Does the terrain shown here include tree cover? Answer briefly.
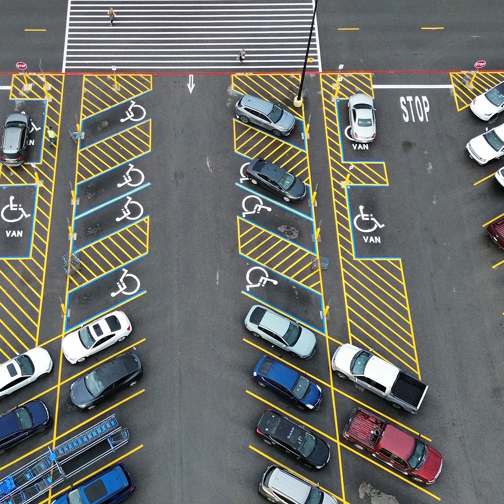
No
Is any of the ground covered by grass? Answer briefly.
No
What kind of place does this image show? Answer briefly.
parking lot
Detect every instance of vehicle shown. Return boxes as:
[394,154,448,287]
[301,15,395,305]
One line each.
[336,404,448,487]
[482,215,504,254]
[345,91,379,144]
[0,398,57,457]
[248,353,324,413]
[0,348,55,402]
[464,124,504,170]
[59,309,134,366]
[0,112,33,169]
[50,462,136,504]
[249,407,336,472]
[258,463,342,504]
[231,94,295,138]
[472,82,504,120]
[241,155,309,204]
[327,342,432,418]
[241,303,314,359]
[68,351,147,413]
